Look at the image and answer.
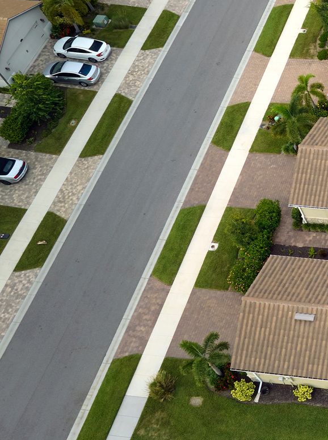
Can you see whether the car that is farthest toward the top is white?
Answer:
Yes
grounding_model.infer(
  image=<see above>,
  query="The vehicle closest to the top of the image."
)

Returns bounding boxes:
[50,36,118,64]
